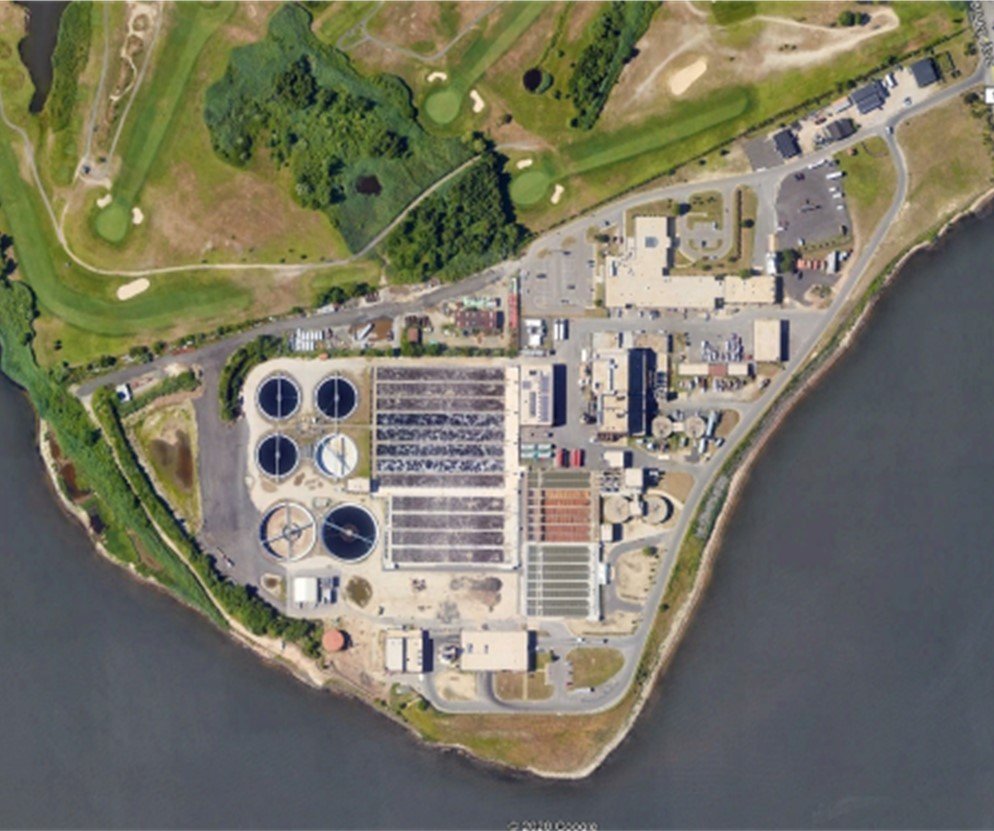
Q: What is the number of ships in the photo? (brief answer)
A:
zero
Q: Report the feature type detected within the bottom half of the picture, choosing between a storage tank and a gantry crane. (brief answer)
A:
storage tank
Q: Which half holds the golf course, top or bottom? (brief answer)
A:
top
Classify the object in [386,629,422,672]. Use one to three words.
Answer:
building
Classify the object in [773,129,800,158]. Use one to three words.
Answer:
shed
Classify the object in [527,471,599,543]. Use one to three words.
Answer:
storage tank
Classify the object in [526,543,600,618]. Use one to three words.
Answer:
storage tank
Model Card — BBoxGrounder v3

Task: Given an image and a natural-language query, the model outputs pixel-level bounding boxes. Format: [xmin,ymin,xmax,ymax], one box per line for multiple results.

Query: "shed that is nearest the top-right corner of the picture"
[911,56,941,87]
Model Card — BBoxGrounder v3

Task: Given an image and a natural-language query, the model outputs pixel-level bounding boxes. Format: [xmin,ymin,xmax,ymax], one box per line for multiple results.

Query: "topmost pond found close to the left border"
[19,0,71,114]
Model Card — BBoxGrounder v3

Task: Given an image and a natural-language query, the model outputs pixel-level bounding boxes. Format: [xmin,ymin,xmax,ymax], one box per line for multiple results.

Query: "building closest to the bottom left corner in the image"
[294,578,316,603]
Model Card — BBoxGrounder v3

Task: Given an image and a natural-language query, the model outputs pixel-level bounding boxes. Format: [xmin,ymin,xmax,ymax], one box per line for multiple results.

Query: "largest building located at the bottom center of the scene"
[461,631,527,672]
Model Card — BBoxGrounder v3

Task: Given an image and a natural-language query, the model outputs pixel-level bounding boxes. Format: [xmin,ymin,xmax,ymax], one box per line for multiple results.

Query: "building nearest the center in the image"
[520,364,552,424]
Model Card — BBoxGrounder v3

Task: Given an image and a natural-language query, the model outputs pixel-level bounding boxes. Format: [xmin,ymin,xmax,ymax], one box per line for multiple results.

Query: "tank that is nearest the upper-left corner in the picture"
[256,375,302,420]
